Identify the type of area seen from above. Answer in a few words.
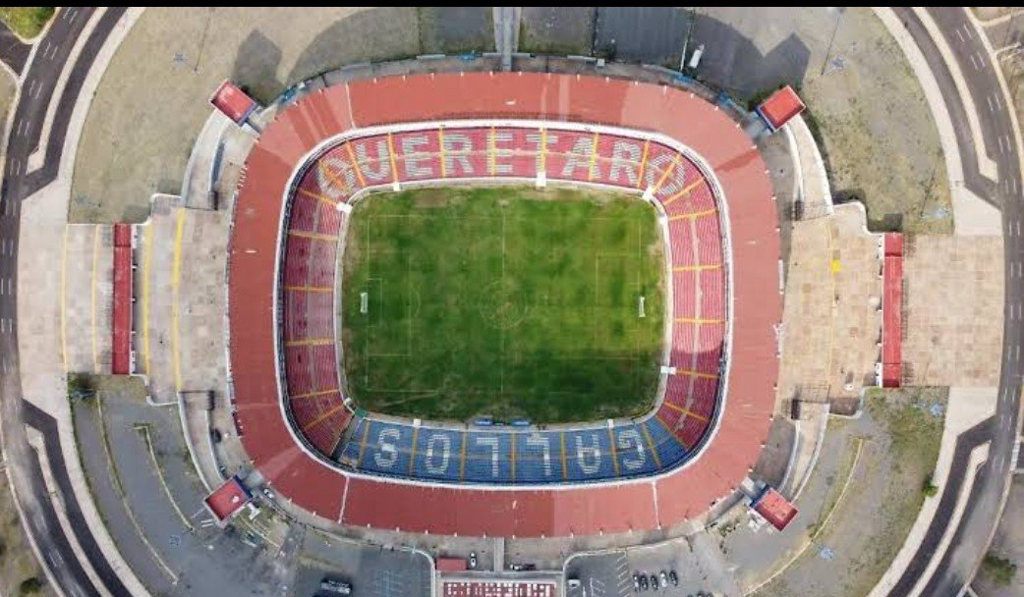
sports ground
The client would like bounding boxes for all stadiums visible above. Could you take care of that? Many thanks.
[225,69,786,540]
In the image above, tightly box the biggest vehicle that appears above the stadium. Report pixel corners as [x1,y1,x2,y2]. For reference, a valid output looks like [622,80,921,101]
[688,47,701,67]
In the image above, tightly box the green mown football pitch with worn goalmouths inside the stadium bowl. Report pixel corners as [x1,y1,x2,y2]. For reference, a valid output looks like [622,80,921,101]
[337,179,671,430]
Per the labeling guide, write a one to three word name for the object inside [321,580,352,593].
vehicle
